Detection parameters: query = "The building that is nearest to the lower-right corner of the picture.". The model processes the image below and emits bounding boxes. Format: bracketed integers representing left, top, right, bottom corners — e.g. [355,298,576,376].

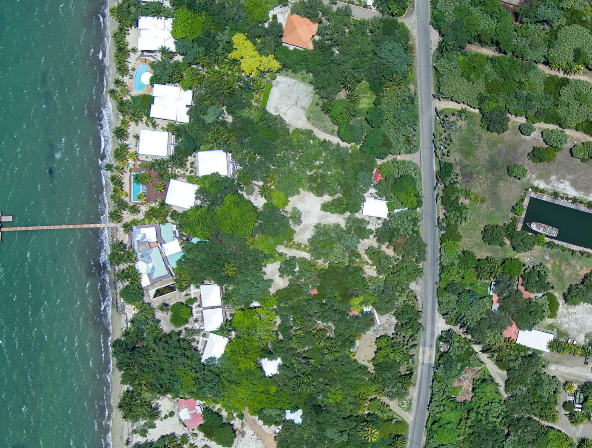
[517,329,554,353]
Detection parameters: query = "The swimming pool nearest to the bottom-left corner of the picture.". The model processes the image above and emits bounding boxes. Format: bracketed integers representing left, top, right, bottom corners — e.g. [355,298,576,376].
[151,283,179,298]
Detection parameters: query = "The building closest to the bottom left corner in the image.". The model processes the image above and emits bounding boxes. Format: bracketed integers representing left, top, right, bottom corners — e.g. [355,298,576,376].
[179,398,205,429]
